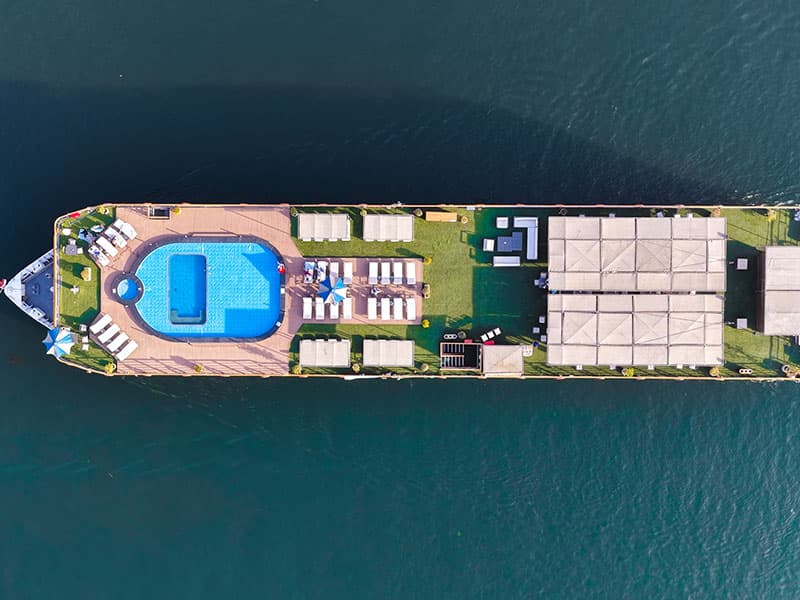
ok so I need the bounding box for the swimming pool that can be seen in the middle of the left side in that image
[112,236,287,343]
